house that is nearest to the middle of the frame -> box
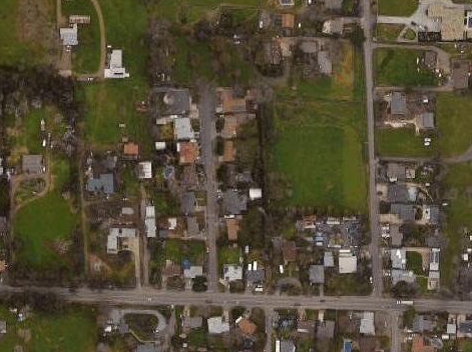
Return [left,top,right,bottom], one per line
[226,166,252,184]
